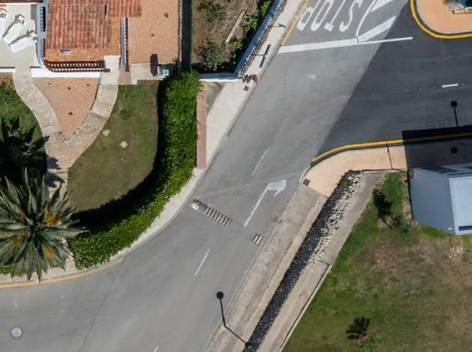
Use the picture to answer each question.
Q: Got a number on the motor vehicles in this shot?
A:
zero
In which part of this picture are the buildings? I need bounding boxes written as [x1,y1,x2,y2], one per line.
[0,0,142,84]
[413,162,472,235]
